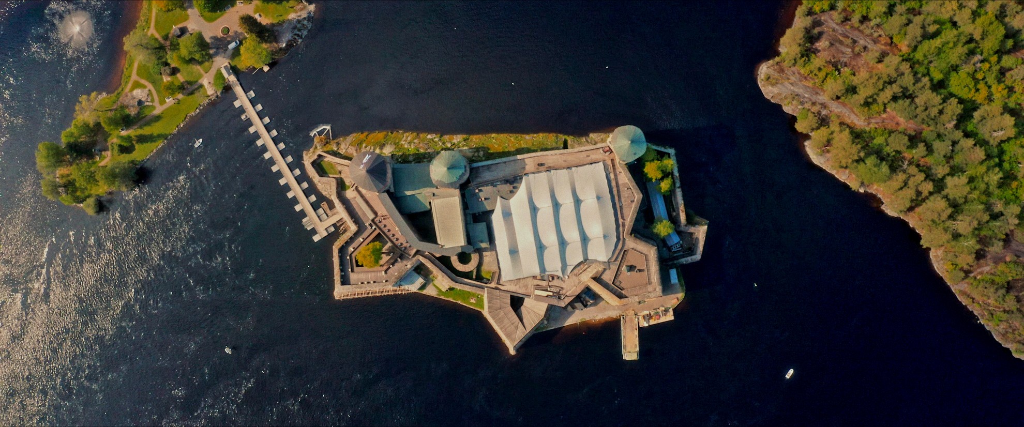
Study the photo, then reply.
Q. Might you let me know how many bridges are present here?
1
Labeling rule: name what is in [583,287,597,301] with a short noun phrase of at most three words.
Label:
vehicle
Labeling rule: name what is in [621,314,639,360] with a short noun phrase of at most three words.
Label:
pier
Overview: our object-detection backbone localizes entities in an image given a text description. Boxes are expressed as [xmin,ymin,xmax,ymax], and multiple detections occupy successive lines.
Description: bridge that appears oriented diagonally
[218,63,342,243]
